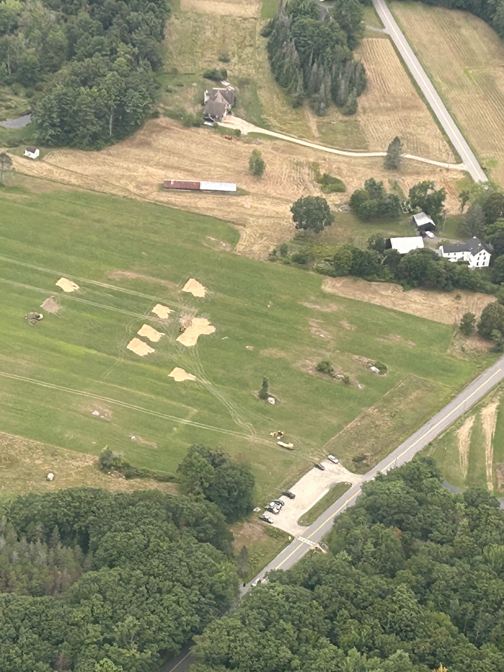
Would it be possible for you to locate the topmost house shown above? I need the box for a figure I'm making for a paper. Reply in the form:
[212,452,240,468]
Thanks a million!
[200,89,234,121]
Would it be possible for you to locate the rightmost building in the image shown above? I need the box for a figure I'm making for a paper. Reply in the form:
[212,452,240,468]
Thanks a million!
[442,236,491,270]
